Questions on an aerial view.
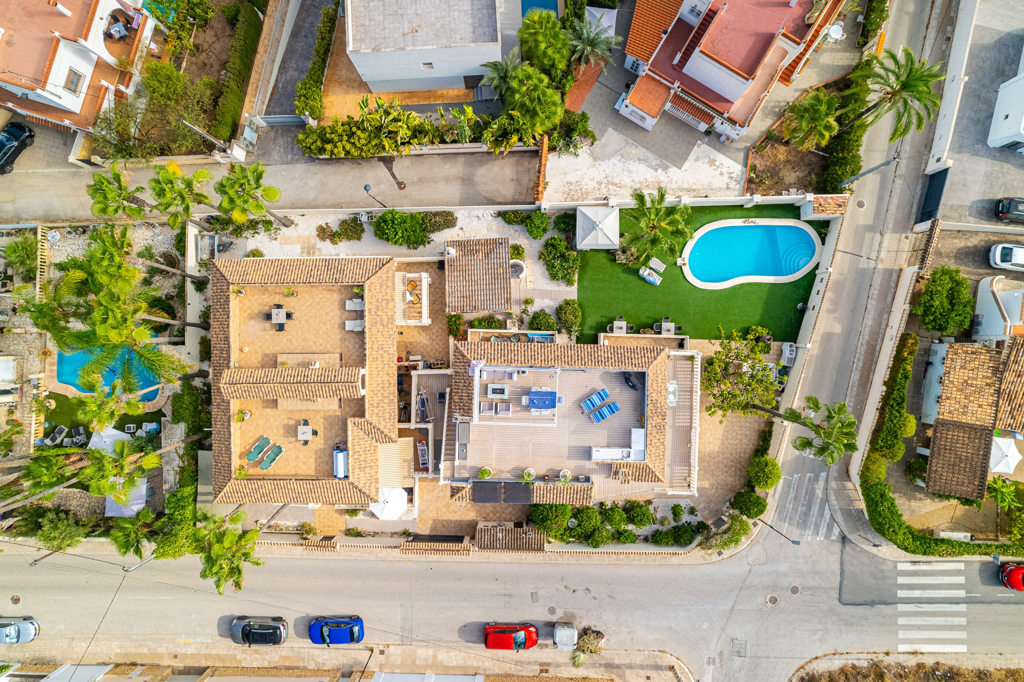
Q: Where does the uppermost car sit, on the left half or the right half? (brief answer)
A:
left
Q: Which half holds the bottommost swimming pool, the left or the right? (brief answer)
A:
left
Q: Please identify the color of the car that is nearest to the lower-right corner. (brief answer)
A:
red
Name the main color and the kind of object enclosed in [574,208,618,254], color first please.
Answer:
white gazebo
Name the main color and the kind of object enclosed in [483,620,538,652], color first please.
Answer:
red car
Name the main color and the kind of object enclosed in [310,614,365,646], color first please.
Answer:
blue car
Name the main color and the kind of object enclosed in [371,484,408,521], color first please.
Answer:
white umbrella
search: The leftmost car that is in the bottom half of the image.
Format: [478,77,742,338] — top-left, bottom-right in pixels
[0,615,37,646]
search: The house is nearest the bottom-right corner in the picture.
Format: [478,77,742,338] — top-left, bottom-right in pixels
[907,333,1024,501]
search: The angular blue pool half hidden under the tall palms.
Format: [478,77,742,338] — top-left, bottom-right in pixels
[48,324,170,411]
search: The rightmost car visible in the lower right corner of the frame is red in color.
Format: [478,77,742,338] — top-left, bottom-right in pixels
[997,563,1024,594]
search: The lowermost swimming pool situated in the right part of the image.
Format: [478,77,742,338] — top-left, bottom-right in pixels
[681,218,823,289]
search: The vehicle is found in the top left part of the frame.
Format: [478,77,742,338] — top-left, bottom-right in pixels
[0,119,34,175]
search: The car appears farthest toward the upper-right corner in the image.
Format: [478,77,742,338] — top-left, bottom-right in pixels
[989,198,1024,224]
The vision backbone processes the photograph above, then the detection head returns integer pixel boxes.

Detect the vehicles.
[483,620,538,652]
[310,614,365,646]
[997,563,1024,594]
[0,615,37,646]
[989,198,1024,224]
[232,614,291,647]
[984,245,1024,270]
[0,119,34,175]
